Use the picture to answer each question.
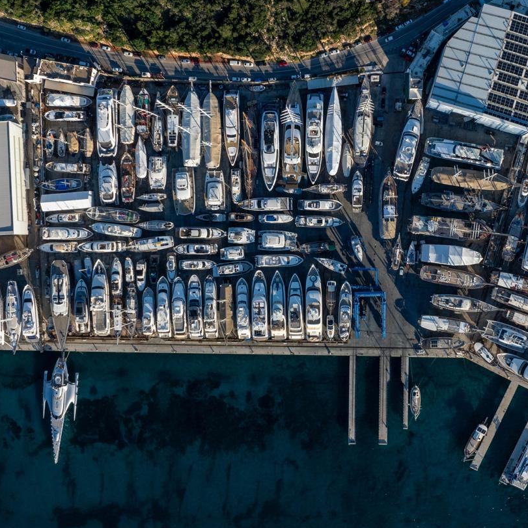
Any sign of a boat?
Yes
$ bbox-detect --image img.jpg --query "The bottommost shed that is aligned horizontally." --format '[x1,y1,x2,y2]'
[40,190,97,213]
